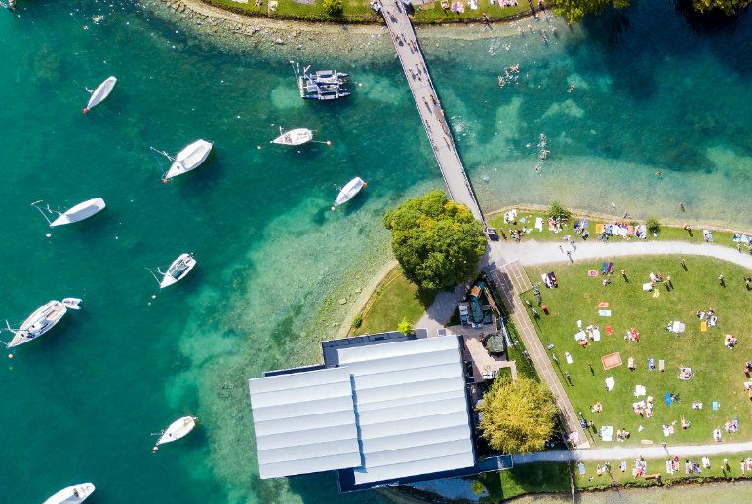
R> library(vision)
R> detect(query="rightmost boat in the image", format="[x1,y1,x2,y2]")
[334,176,368,208]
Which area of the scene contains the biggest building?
bottom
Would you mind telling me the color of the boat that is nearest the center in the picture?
white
